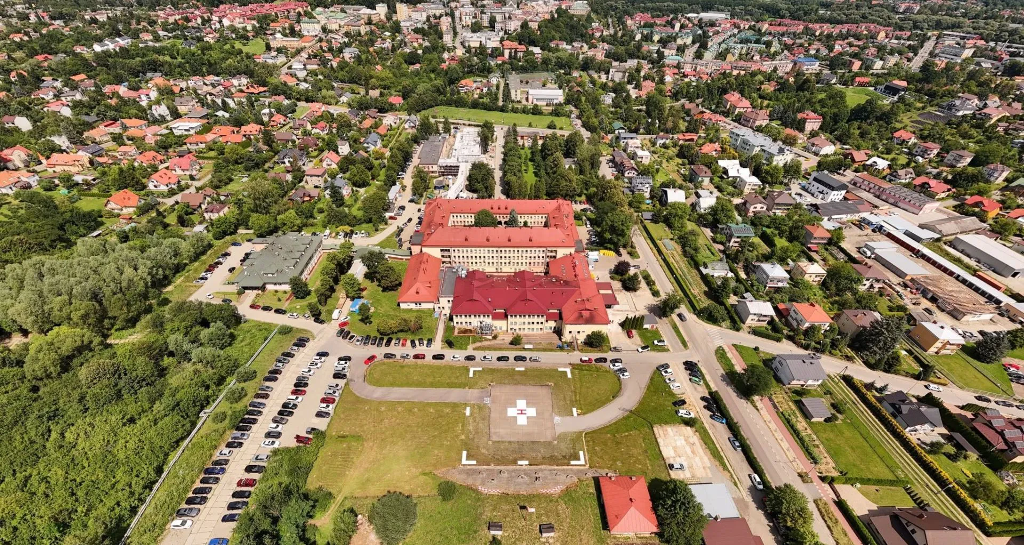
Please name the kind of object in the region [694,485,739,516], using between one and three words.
house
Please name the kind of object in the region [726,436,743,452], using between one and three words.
car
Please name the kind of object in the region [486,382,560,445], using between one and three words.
helipad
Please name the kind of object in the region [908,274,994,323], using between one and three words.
building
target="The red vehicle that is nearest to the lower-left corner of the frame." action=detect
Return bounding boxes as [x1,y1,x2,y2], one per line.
[238,477,256,489]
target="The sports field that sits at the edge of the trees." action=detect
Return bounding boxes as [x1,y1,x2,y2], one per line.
[418,107,565,129]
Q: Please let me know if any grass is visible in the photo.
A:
Yes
